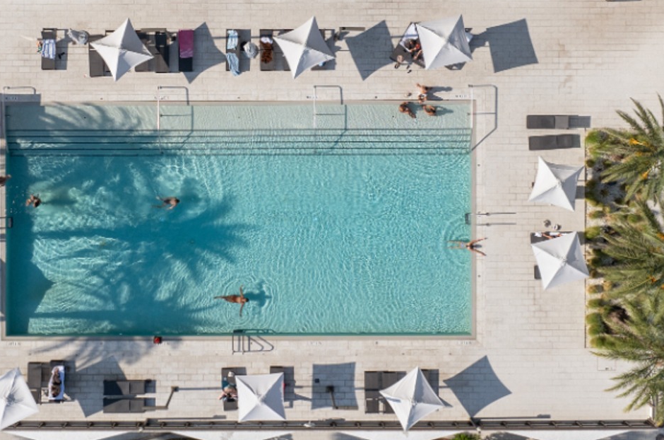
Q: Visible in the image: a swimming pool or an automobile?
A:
swimming pool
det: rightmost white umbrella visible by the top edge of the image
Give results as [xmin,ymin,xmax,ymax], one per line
[416,16,471,68]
